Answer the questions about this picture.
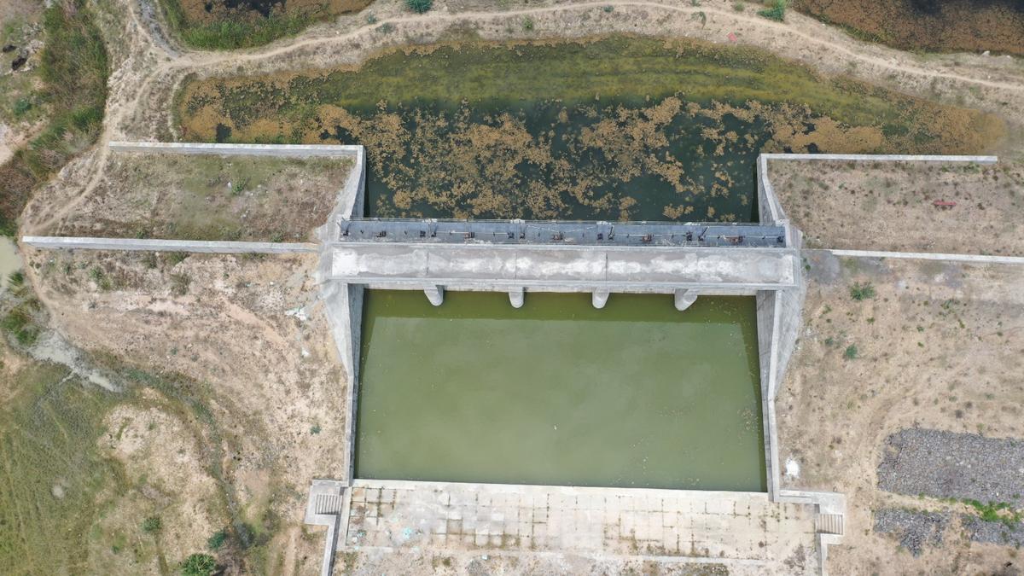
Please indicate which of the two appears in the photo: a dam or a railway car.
dam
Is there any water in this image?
Yes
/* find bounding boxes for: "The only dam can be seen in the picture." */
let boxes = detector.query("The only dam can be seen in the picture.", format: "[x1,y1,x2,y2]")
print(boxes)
[319,216,801,311]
